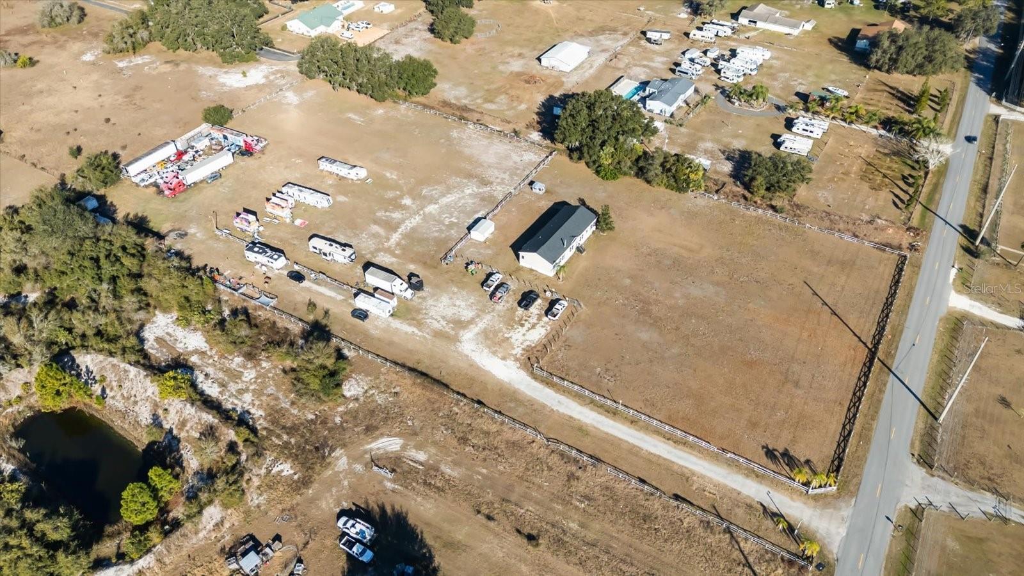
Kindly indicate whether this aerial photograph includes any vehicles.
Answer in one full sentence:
Yes, I can see a vehicle in this picture.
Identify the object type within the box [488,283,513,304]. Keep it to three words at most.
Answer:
truck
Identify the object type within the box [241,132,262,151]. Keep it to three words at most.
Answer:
vehicle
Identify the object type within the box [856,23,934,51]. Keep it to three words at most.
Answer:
house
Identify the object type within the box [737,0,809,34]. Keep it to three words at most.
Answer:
barn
